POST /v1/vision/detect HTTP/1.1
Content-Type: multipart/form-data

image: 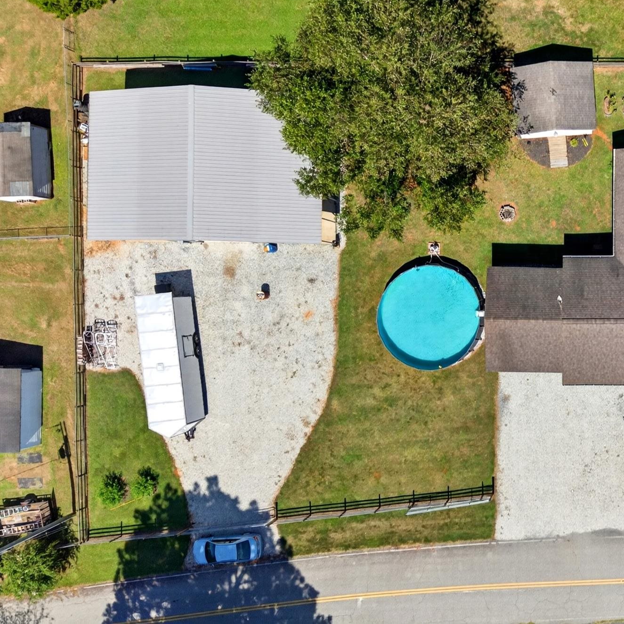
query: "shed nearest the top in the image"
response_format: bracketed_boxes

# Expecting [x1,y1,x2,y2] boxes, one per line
[516,60,596,139]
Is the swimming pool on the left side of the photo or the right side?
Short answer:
right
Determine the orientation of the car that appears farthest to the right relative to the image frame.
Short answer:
from side to side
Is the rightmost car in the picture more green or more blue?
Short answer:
blue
